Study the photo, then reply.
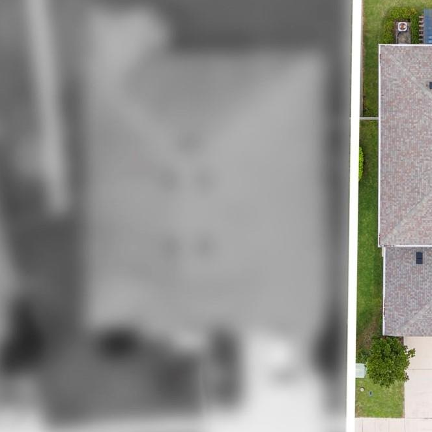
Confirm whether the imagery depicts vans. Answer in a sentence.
No, there appears to be no van in this shot.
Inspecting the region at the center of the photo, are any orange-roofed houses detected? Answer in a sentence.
No, no orange-roofed house appears at the center of the photo.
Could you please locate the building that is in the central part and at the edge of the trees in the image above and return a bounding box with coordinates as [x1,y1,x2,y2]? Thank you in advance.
[86,9,326,357]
